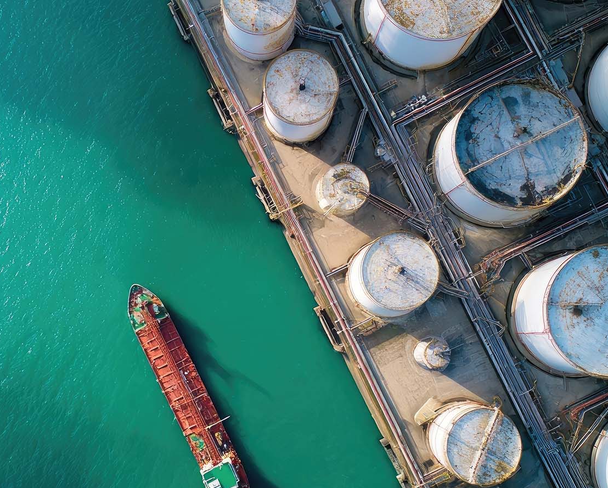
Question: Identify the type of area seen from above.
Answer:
industrial area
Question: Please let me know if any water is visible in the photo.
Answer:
Yes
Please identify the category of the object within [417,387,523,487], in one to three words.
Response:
storage tank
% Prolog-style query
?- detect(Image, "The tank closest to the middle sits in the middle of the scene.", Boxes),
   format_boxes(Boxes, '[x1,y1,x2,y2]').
[300,162,370,235]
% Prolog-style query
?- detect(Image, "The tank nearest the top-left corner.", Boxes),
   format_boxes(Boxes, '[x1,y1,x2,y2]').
[213,0,296,73]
